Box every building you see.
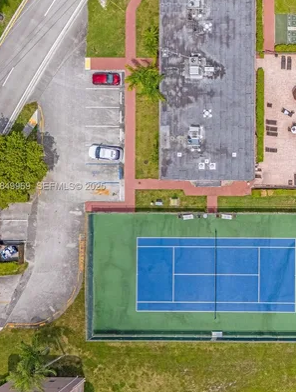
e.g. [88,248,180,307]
[0,378,85,392]
[160,0,257,186]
